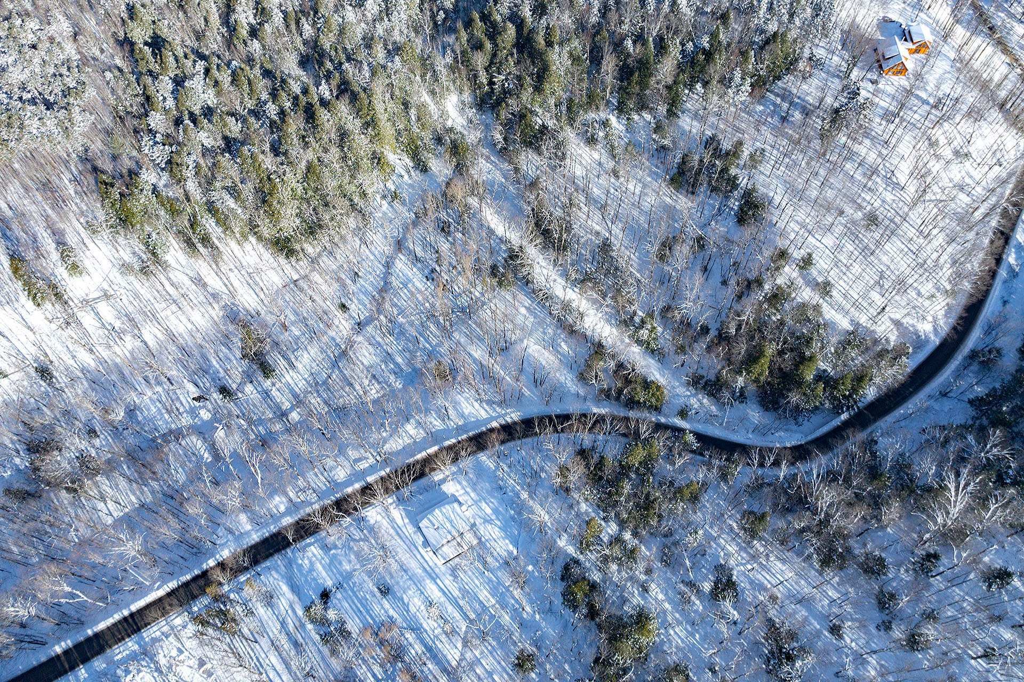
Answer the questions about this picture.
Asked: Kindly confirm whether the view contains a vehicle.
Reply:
No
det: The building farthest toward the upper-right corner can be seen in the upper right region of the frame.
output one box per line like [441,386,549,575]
[894,22,935,56]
